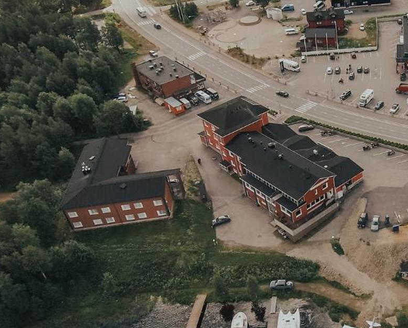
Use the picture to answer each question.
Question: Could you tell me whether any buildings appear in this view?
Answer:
Yes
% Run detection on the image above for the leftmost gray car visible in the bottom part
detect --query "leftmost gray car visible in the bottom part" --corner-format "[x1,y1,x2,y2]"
[212,215,232,227]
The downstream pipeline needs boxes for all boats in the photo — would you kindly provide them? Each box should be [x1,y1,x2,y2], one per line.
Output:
[231,308,248,328]
[279,309,300,328]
